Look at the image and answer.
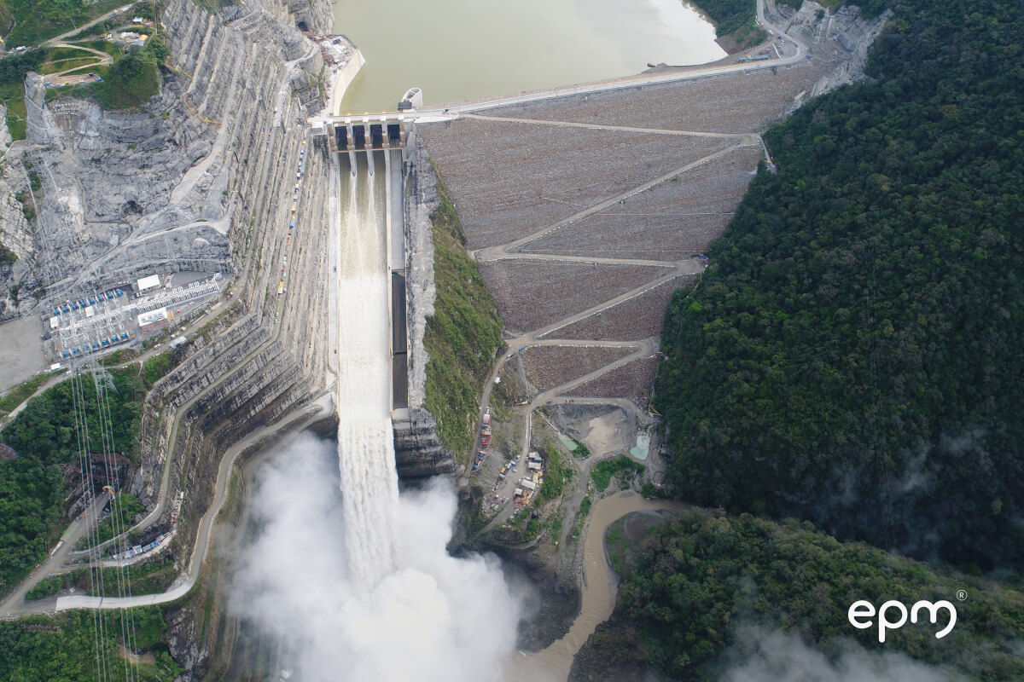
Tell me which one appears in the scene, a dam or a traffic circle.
dam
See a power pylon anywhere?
Yes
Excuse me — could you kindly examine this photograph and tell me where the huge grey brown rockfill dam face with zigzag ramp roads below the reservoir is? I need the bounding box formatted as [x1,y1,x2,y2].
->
[415,55,829,405]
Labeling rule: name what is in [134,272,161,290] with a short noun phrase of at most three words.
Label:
building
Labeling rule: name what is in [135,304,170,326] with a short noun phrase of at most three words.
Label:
building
